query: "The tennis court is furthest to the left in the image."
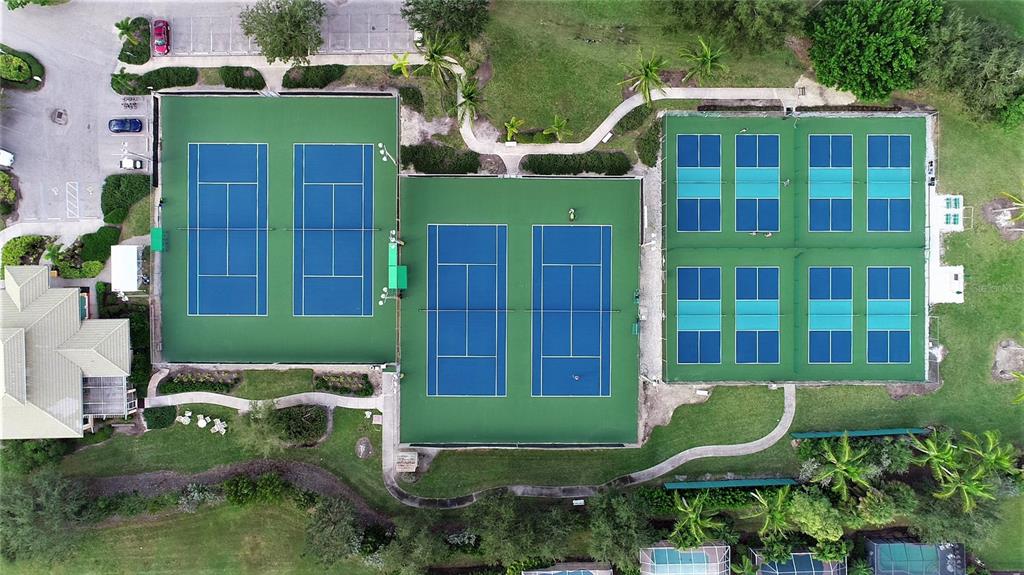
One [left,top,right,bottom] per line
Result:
[161,95,281,363]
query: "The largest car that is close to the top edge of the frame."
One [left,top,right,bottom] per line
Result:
[150,18,170,55]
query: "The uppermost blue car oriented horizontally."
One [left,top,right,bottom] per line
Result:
[108,117,143,133]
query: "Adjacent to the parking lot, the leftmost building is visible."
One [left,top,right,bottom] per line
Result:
[0,264,147,439]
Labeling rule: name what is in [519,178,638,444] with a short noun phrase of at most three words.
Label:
tennis court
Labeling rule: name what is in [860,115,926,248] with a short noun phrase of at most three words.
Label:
sports court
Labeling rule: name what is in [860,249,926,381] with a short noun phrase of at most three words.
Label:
sports court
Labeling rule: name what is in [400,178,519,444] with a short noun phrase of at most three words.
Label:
tennis court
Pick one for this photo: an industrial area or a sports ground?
sports ground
